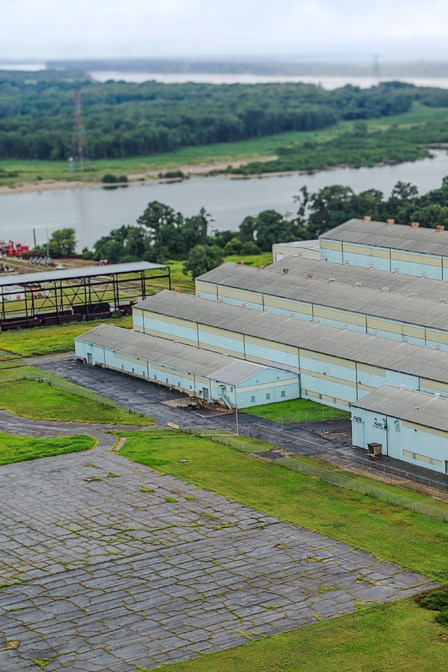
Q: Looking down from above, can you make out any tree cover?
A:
Yes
